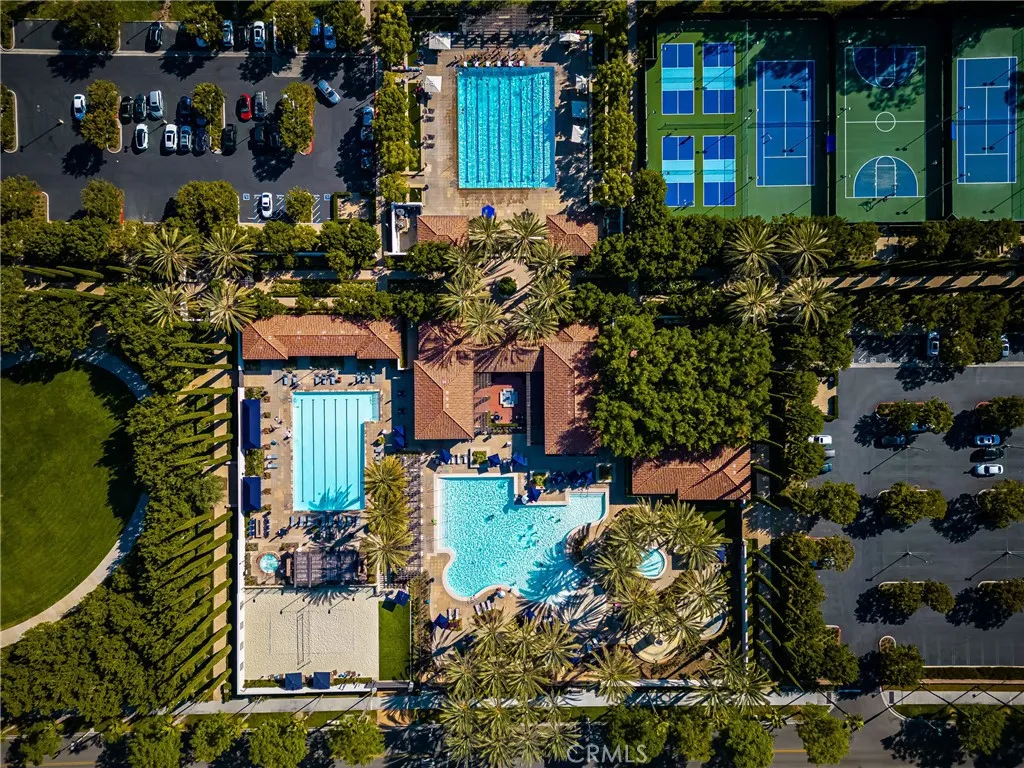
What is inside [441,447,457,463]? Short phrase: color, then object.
blue umbrella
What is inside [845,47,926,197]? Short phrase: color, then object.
blue basketball court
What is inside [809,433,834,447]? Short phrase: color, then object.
white car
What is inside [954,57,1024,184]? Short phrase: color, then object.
blue tennis court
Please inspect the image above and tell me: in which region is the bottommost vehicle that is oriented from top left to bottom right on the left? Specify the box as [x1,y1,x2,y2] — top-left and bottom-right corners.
[316,77,340,104]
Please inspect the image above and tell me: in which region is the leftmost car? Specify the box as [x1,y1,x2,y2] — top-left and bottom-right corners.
[70,92,85,120]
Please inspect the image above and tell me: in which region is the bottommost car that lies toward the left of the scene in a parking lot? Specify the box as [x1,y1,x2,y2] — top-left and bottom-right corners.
[258,191,272,218]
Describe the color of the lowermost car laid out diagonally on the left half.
blue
